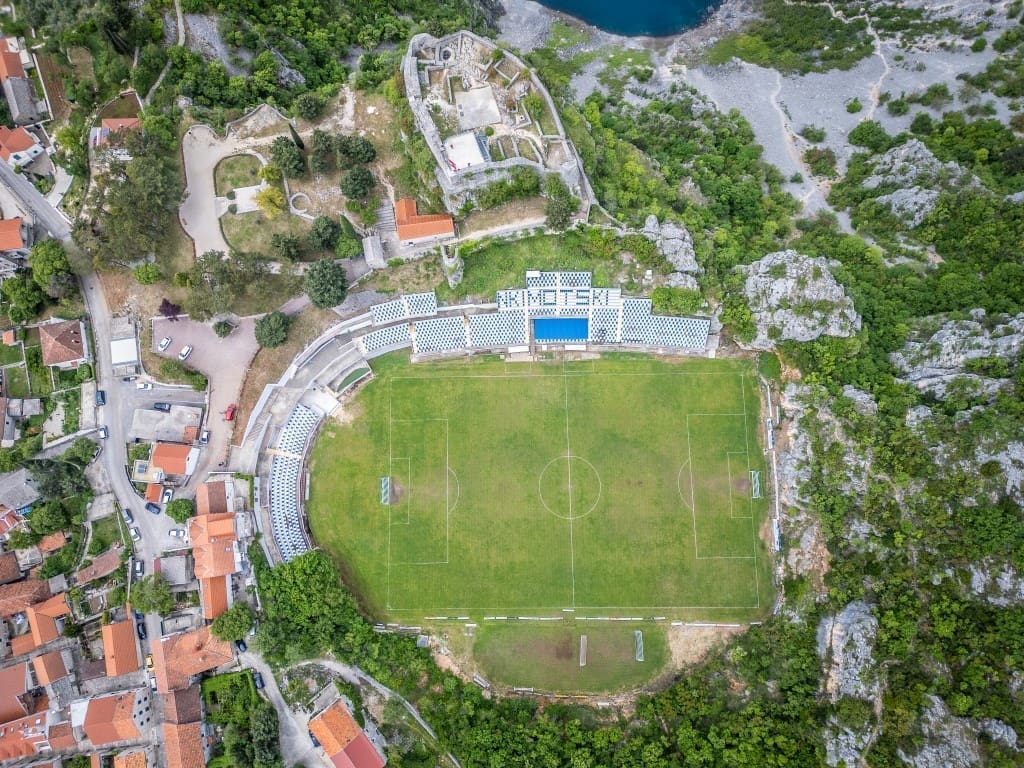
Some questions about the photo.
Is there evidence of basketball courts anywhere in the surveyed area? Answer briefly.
No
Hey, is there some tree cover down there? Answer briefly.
Yes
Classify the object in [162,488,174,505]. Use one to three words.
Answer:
vehicle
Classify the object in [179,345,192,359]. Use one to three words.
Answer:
vehicle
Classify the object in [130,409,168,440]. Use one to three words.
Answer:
house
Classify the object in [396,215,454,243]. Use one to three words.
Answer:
house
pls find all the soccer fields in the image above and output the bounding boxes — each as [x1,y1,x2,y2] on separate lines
[306,355,779,627]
